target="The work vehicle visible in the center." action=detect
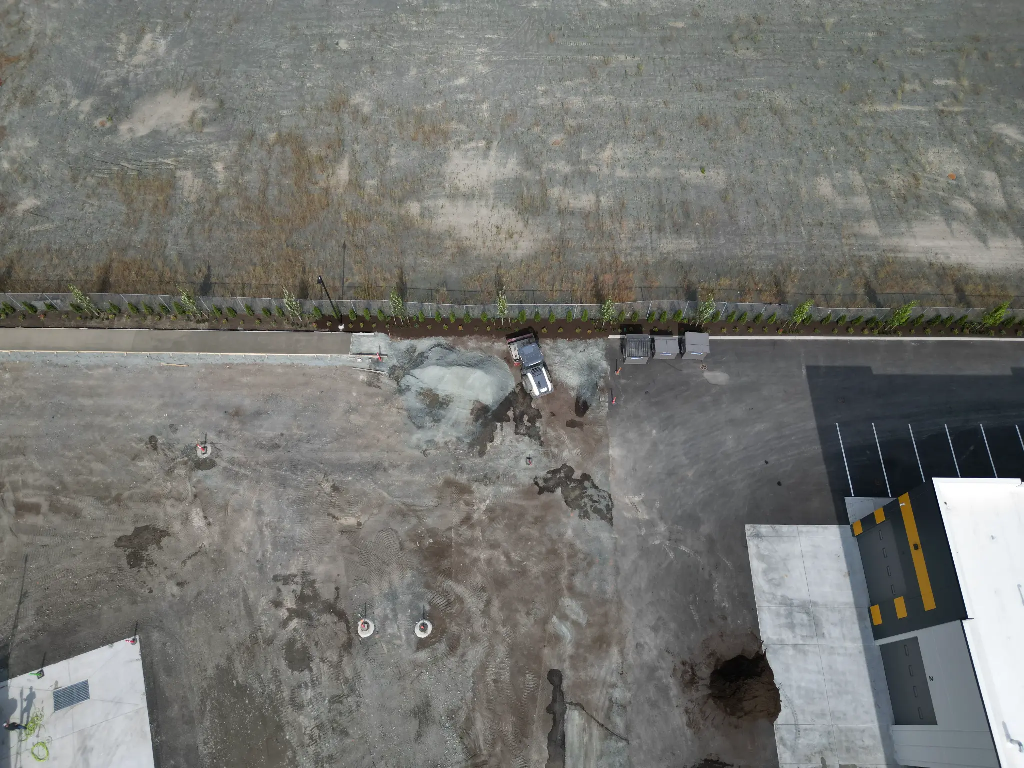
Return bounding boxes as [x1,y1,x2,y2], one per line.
[507,332,556,403]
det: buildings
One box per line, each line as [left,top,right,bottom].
[851,477,1024,768]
